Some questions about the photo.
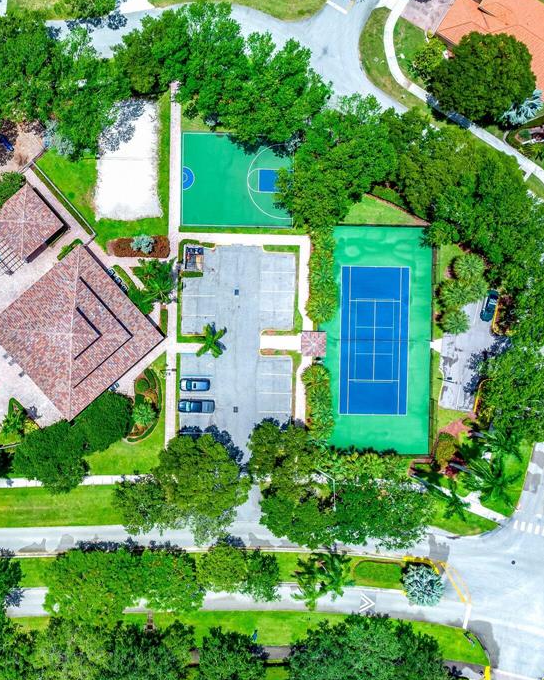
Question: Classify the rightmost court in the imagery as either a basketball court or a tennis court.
tennis court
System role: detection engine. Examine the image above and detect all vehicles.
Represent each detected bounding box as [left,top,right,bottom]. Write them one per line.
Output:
[178,399,215,414]
[477,291,497,320]
[180,378,210,392]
